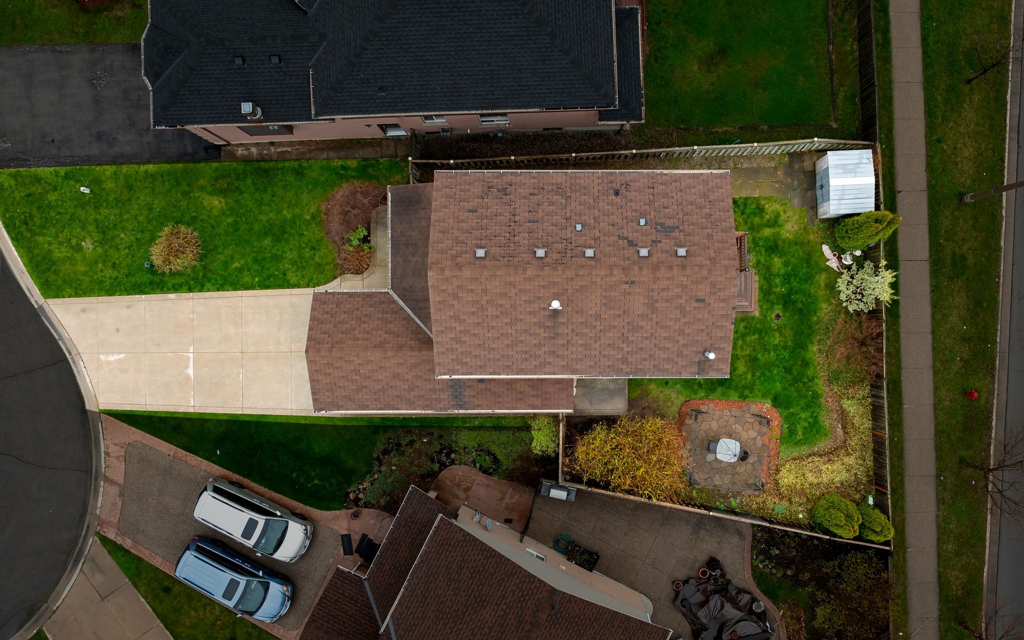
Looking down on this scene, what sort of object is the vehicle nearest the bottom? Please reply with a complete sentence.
From above, the vehicle nearest the bottom can be identified as a car.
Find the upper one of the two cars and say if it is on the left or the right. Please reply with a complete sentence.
It is on the left.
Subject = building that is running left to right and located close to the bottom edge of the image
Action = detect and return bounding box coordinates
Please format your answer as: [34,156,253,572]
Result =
[298,484,674,640]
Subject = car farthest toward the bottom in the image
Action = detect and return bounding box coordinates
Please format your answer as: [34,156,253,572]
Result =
[175,535,295,618]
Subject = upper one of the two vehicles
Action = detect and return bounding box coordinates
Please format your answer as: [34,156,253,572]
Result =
[192,478,313,558]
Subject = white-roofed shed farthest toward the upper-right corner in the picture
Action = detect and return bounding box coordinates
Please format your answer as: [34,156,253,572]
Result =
[817,151,876,218]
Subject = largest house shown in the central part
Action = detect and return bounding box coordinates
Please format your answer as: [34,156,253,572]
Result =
[305,168,739,414]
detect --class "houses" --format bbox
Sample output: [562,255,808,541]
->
[305,168,739,414]
[139,0,647,154]
[298,484,674,640]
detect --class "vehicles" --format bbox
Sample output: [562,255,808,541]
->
[175,535,295,618]
[192,478,313,558]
